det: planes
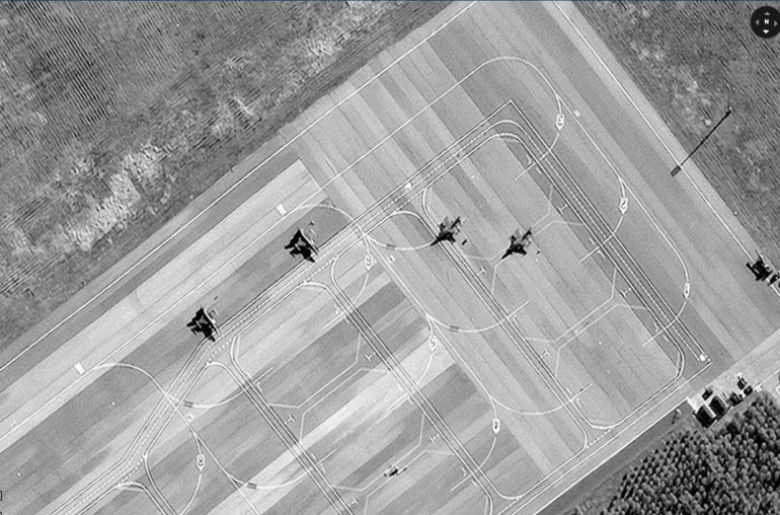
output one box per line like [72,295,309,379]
[436,213,468,239]
[503,224,535,251]
[759,248,780,276]
[292,226,319,256]
[193,303,220,334]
